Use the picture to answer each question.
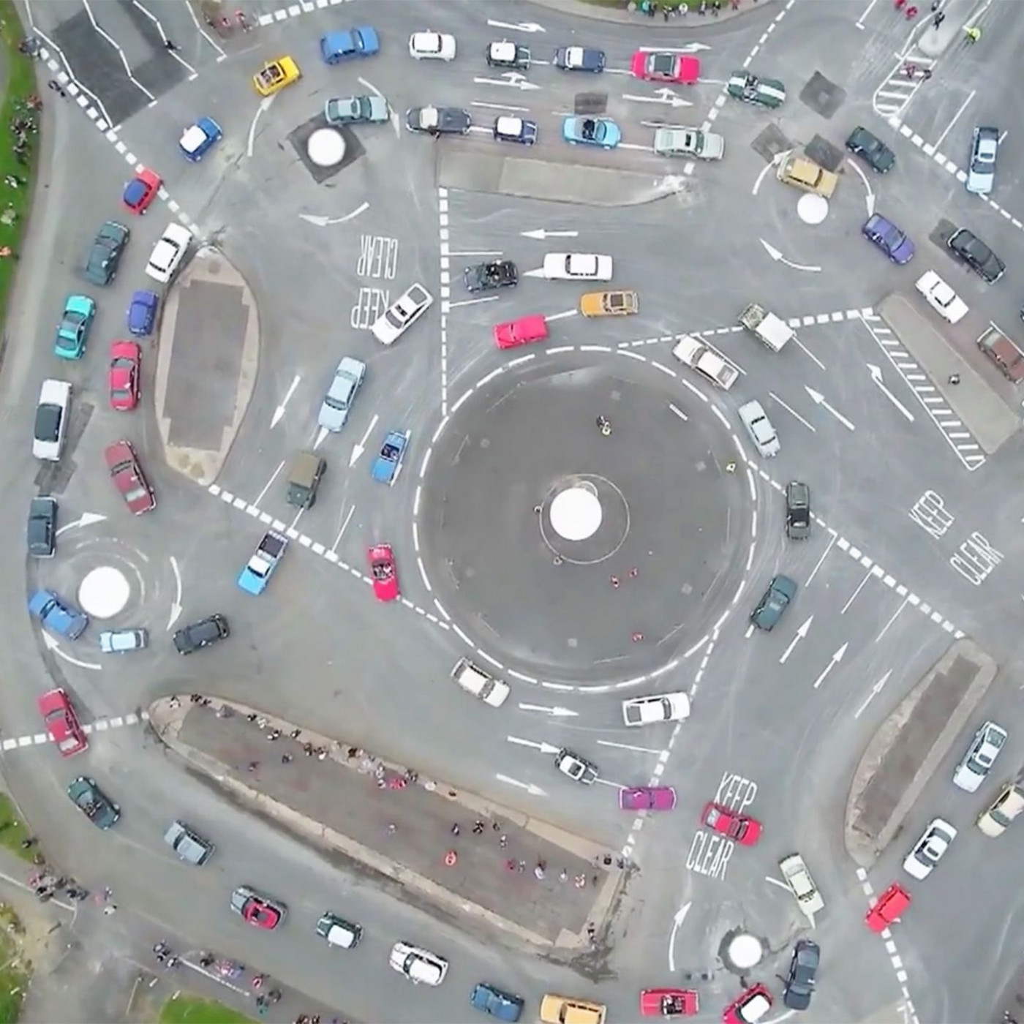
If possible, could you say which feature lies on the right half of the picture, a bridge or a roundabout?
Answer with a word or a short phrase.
roundabout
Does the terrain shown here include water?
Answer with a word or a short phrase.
No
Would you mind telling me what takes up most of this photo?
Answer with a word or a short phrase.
paved ground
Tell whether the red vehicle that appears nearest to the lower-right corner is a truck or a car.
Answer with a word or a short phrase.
car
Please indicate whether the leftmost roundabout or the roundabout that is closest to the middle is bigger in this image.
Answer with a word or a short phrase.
the roundabout that is closest to the middle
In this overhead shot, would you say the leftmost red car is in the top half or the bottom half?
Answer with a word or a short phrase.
bottom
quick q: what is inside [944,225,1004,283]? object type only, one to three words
car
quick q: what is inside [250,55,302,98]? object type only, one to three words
car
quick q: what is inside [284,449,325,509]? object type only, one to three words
vehicle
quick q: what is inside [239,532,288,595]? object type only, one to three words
truck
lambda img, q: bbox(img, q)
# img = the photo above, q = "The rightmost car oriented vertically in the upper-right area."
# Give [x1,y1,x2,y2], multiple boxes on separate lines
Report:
[964,126,998,193]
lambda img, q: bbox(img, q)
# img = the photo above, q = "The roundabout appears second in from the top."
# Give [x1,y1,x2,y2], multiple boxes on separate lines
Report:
[796,193,827,224]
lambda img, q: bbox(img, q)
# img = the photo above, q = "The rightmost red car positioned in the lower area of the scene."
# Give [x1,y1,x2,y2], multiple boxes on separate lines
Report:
[863,881,913,933]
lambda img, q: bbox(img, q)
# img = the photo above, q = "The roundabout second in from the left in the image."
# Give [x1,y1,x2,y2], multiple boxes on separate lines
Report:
[287,111,366,183]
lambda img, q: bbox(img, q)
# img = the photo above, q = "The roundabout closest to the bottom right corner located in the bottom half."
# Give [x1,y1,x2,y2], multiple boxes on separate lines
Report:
[715,928,767,978]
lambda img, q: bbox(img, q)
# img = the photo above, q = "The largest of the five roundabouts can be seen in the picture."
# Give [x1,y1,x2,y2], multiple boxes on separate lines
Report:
[414,345,757,690]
